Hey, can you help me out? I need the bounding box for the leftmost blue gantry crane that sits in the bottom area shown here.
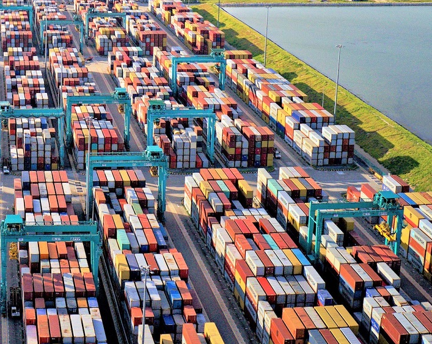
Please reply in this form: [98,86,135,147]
[0,217,101,319]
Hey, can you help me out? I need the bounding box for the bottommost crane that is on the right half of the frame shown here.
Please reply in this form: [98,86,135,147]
[289,184,395,251]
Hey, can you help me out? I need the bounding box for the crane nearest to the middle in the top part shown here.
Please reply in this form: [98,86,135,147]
[143,99,216,165]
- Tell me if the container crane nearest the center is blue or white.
blue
